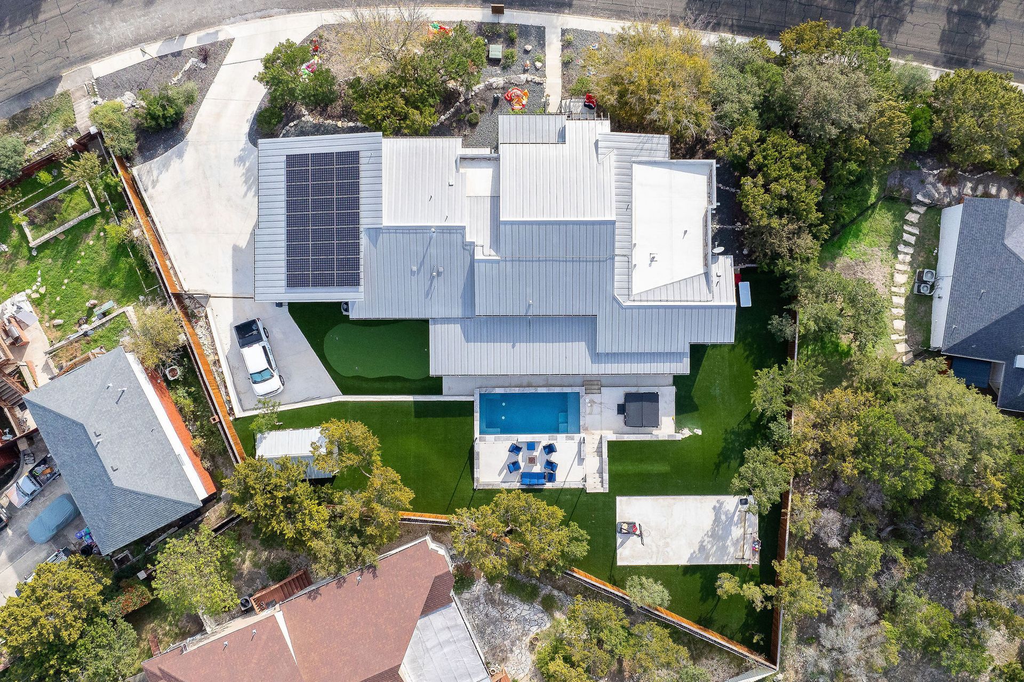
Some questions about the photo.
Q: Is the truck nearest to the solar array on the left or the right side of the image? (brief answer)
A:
left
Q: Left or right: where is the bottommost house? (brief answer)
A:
left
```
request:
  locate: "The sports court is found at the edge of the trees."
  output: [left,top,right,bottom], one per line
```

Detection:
[617,496,758,566]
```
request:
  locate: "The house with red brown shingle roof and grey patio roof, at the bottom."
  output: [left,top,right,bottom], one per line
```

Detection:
[141,530,492,682]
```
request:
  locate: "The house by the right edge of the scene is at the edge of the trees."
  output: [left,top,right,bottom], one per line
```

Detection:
[918,197,1024,413]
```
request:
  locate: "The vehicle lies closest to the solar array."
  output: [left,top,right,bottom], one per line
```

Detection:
[232,315,286,400]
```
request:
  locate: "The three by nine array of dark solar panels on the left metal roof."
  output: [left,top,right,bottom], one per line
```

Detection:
[286,152,360,289]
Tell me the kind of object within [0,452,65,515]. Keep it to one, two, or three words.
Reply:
truck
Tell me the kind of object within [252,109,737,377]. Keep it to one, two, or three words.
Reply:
house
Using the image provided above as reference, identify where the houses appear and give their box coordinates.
[23,346,222,556]
[252,109,737,377]
[918,197,1024,413]
[141,530,492,682]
